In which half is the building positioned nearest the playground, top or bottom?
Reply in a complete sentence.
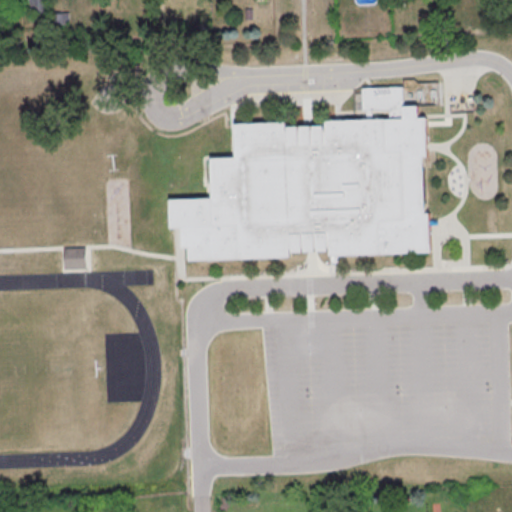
Seen from above, the building positioned nearest the playground lies in the top half of the view.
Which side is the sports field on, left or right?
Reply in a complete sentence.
You can find the sports field on the left side of the picture.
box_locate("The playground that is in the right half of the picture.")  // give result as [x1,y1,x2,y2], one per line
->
[468,143,498,200]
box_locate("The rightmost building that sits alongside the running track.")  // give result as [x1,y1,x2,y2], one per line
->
[168,86,438,263]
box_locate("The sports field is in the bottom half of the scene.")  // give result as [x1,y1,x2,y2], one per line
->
[0,320,97,419]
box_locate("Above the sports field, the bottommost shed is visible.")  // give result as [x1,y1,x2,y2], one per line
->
[63,248,86,270]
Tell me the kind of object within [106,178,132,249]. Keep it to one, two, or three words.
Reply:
sports court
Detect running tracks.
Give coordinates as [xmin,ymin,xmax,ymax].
[0,270,162,469]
